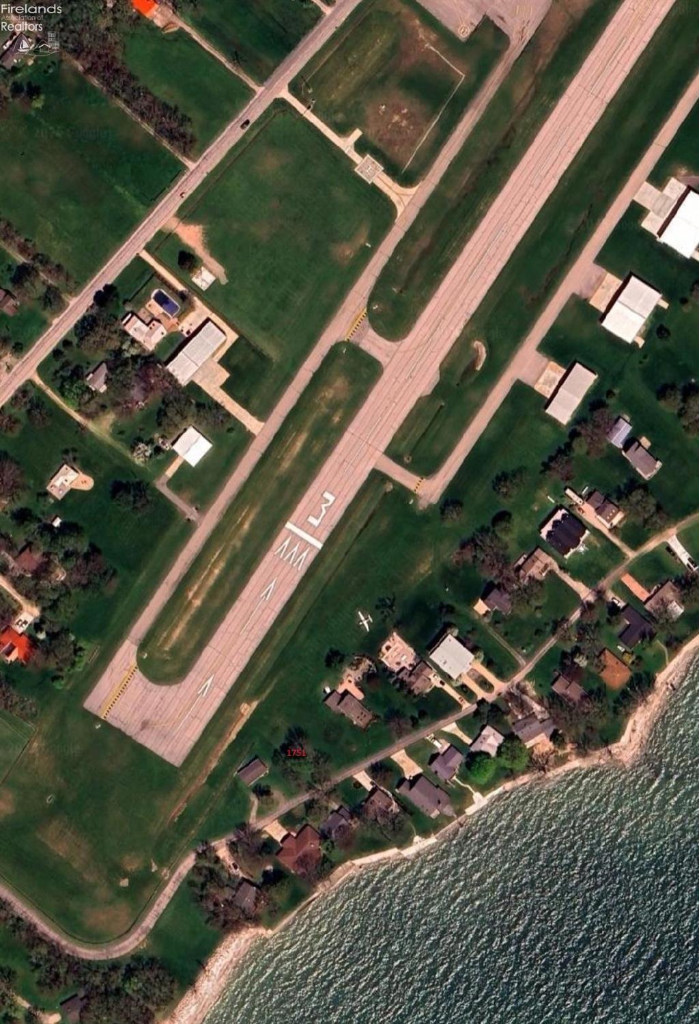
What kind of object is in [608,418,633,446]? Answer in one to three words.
shed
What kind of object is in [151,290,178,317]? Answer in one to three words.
swimming pool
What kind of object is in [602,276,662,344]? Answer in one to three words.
hangar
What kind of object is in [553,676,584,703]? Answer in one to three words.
house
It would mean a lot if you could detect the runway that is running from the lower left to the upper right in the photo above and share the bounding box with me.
[149,0,676,767]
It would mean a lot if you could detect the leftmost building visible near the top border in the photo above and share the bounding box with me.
[0,34,31,72]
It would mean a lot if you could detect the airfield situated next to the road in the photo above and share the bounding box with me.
[83,0,699,767]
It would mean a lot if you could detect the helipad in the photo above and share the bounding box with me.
[354,154,384,184]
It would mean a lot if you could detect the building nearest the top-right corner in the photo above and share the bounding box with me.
[659,190,699,258]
